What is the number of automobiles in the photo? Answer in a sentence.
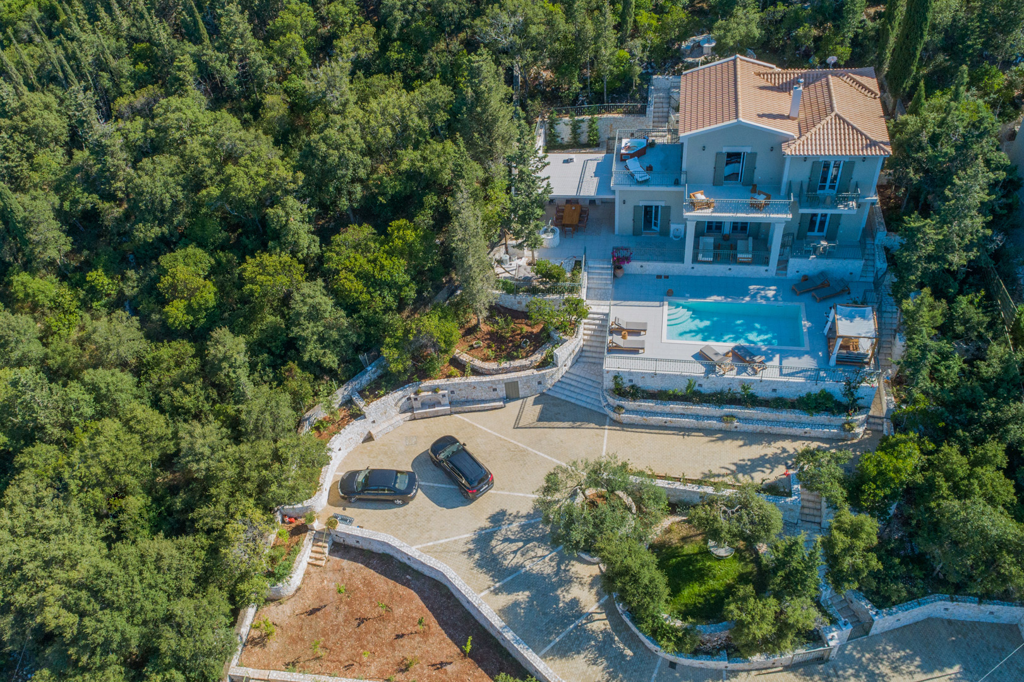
I count 2 automobiles.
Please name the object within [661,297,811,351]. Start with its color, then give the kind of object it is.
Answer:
blue swimming pool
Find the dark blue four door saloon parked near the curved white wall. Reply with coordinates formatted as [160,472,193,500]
[336,465,421,506]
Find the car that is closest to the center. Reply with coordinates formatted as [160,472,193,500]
[429,438,496,501]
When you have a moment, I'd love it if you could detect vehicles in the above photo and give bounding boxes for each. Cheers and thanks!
[429,438,496,501]
[336,465,421,506]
